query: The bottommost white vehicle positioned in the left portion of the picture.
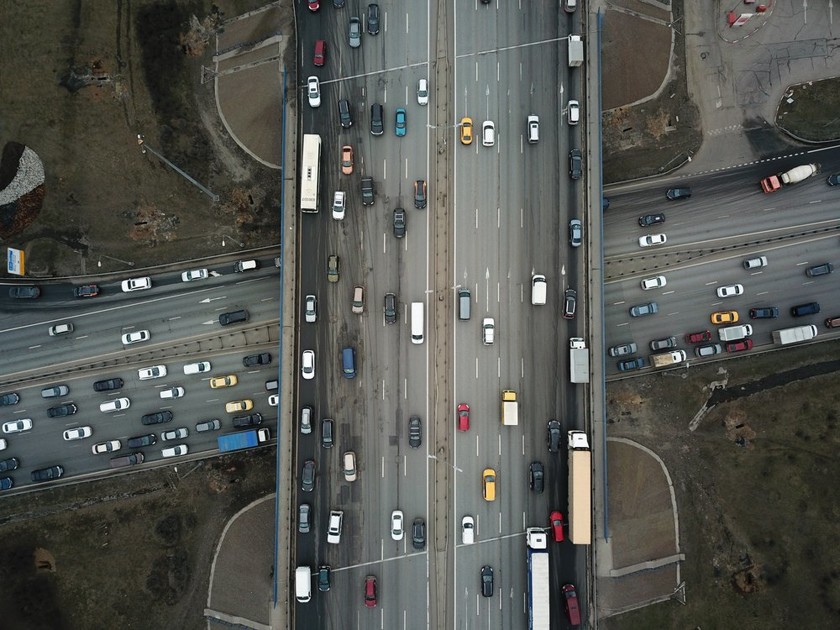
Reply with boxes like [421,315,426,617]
[295,566,311,603]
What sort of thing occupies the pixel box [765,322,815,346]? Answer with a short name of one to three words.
truck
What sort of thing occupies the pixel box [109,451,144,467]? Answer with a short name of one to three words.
vehicle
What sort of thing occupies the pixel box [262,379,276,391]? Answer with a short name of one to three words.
vehicle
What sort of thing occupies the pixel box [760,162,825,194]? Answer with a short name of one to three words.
truck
